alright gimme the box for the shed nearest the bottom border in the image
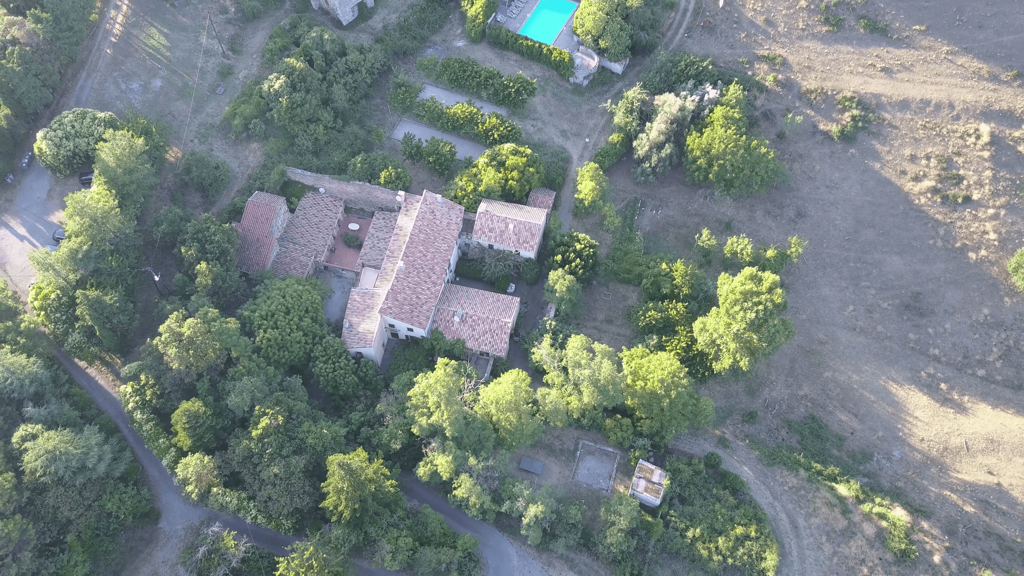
[630,461,667,504]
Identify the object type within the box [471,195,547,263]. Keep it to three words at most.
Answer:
house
